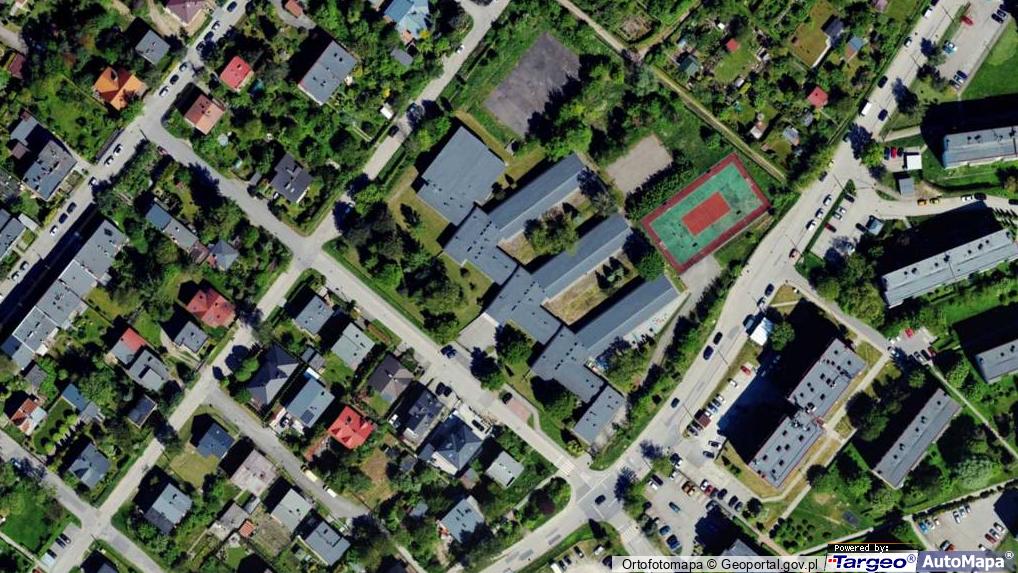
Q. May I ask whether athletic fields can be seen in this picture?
Yes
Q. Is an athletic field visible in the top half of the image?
Yes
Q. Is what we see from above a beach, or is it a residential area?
residential area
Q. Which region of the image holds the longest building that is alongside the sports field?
center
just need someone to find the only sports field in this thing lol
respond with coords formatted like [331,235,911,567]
[484,32,581,137]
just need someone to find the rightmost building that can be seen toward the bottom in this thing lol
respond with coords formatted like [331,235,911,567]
[973,340,1018,383]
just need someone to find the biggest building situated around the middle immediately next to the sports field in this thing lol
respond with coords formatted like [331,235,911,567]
[417,125,680,445]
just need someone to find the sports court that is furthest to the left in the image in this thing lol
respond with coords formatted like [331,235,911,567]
[605,134,673,199]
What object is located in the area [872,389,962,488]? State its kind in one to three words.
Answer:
building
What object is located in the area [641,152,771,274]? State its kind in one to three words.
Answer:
sports court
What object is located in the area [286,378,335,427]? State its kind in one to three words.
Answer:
house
